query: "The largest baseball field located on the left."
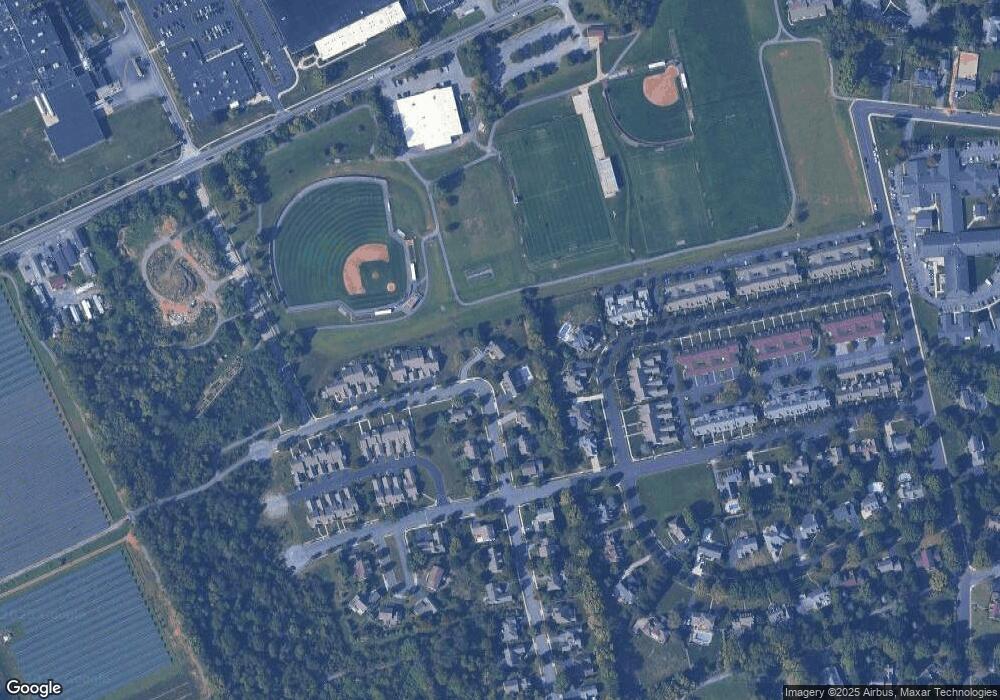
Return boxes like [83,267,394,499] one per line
[273,177,411,312]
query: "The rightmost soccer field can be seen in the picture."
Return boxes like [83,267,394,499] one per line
[701,111,783,232]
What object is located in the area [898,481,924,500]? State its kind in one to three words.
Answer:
house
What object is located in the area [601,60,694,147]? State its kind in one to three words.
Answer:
baseball field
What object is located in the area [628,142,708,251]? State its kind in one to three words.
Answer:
soccer field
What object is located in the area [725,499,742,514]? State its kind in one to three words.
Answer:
swimming pool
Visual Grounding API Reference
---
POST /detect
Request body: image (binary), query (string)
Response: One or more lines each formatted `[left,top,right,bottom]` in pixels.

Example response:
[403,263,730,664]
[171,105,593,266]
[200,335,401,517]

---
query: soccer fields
[628,142,708,251]
[509,124,603,260]
[701,111,783,232]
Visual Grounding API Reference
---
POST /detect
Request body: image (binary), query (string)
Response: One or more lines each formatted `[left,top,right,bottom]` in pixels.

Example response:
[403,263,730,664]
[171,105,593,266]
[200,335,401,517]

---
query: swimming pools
[691,632,713,643]
[559,321,571,341]
[519,365,532,380]
[899,473,910,481]
[725,499,742,514]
